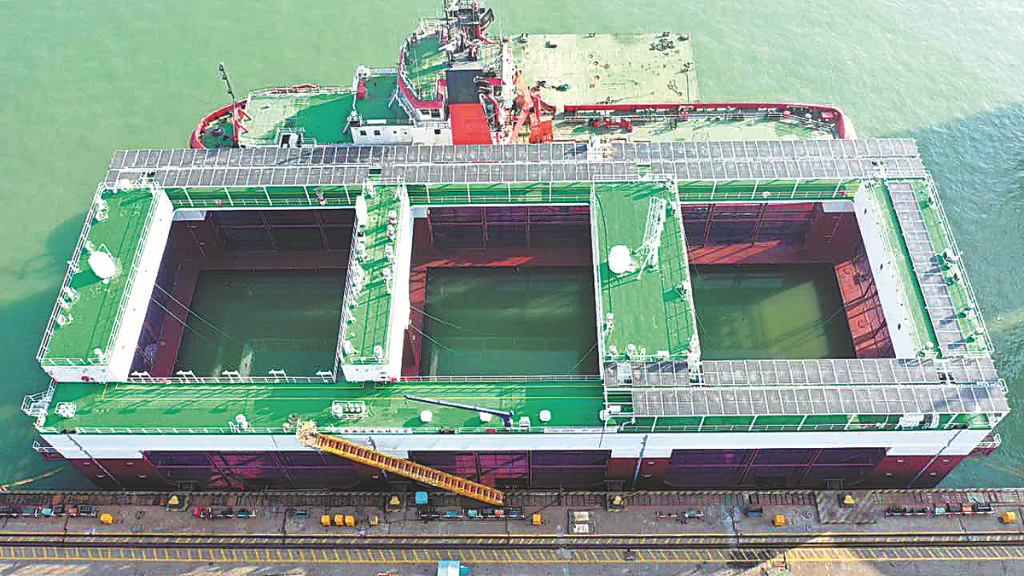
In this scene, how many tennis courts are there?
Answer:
zero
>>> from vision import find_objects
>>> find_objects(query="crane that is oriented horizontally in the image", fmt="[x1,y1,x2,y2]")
[406,394,518,431]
